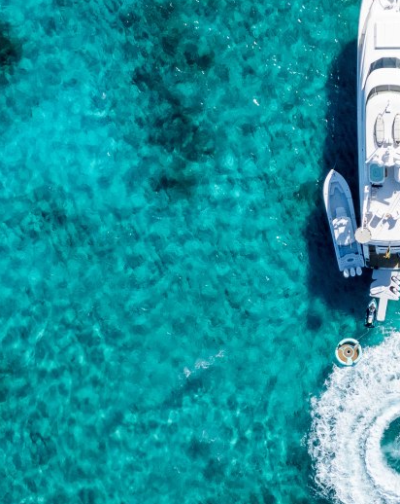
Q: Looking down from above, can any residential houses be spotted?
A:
No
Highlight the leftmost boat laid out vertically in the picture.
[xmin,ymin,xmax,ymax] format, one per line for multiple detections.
[327,170,364,279]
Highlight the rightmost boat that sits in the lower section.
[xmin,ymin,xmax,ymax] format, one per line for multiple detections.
[365,301,377,326]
